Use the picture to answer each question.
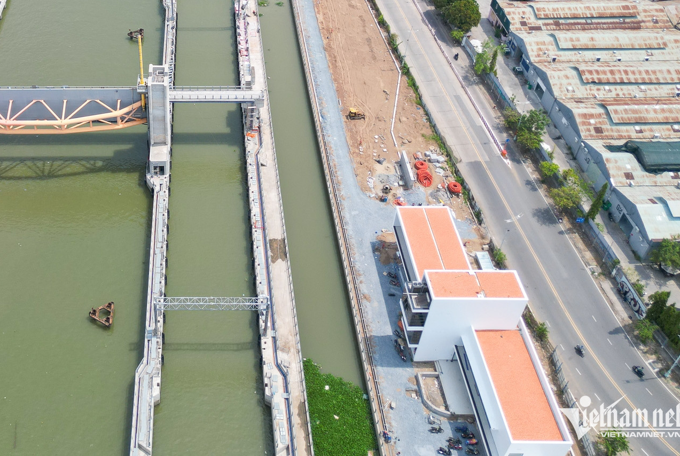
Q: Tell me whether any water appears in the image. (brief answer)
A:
Yes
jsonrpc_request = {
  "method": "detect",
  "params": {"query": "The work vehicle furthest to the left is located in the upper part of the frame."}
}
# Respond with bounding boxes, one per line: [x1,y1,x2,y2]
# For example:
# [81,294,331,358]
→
[350,109,365,122]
